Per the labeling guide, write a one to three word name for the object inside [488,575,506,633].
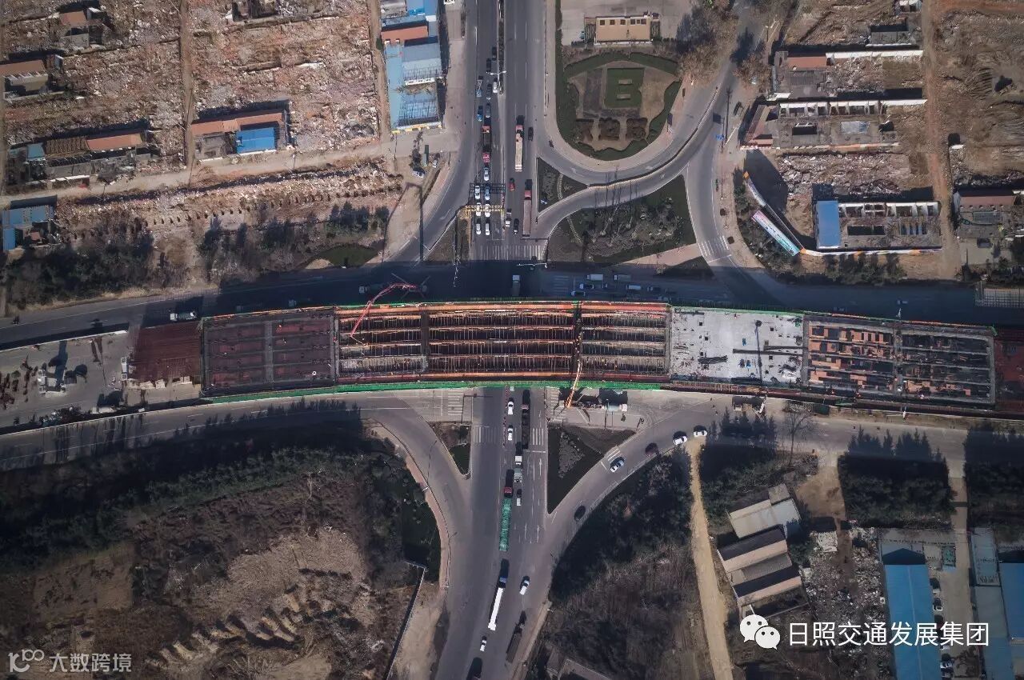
vehicle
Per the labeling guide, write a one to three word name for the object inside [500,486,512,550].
vehicle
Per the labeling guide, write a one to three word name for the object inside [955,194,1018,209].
house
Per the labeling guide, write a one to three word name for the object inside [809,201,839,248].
shed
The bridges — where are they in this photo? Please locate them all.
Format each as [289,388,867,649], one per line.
[143,295,1024,421]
